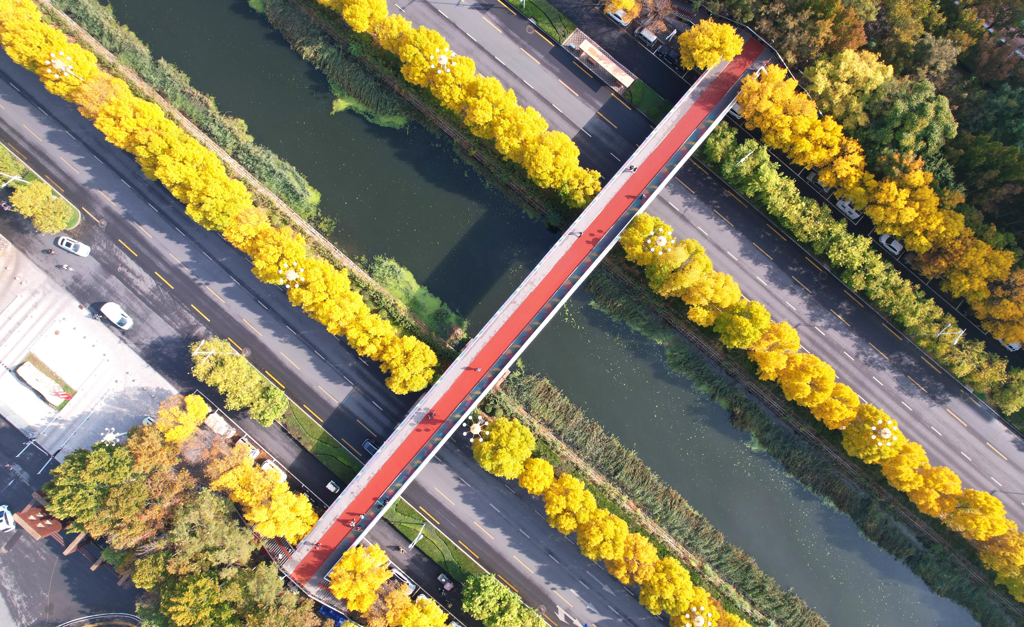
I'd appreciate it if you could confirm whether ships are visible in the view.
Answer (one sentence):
No, there is no ship in the image.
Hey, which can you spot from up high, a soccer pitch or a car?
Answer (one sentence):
The one in the frame is a car.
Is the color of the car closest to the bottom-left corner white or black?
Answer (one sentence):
In this view, the car closest to the bottom-left corner is white.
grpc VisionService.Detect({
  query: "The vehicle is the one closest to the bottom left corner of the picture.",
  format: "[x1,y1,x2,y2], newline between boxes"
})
[0,498,22,537]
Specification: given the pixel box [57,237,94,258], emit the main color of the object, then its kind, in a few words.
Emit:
white car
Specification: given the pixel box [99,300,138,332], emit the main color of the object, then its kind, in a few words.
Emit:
white car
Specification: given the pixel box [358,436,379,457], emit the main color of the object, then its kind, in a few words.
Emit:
black car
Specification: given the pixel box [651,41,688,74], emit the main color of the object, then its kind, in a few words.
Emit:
black vehicle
